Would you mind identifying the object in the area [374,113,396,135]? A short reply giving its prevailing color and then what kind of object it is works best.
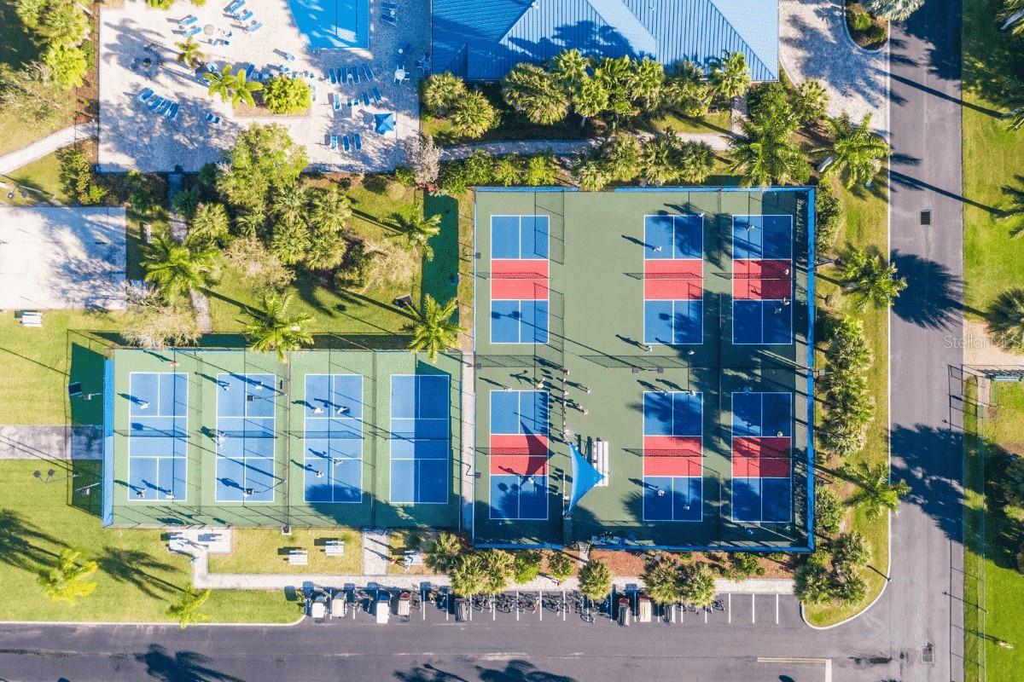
blue umbrella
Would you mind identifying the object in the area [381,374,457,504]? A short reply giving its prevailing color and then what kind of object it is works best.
blue sports court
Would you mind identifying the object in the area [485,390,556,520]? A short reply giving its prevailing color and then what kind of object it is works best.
blue sports court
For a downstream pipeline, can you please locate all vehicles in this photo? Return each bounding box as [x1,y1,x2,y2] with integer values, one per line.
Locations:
[377,594,391,621]
[616,599,630,626]
[637,595,651,621]
[332,587,349,615]
[313,594,329,621]
[660,596,675,623]
[398,589,412,616]
[455,594,469,621]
